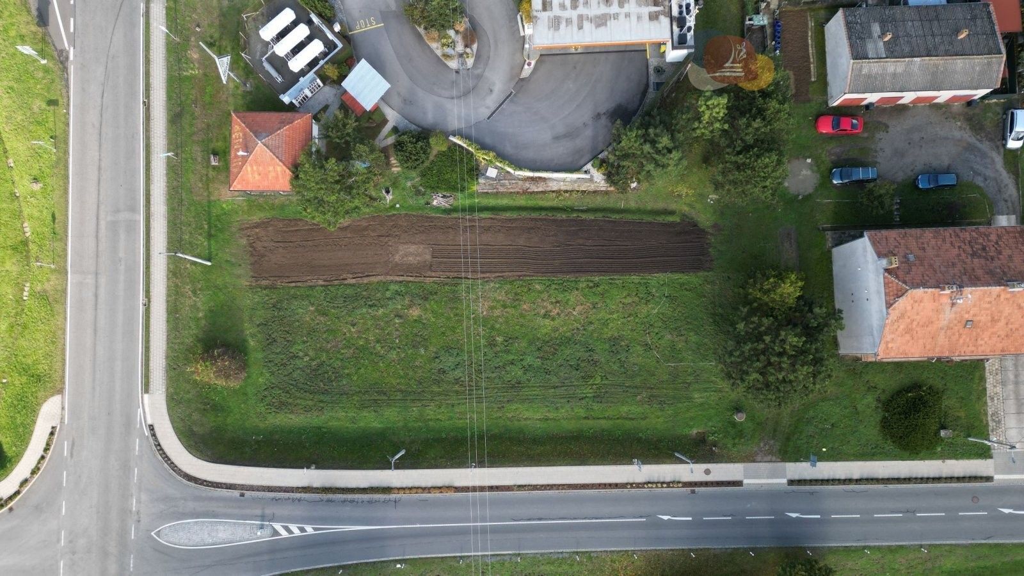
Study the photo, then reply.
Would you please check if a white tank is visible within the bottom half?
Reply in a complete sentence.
No, I see no white tank within the bottom half.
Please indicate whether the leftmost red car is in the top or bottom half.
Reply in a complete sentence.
Seen from above, the leftmost red car lies in the top half of the view.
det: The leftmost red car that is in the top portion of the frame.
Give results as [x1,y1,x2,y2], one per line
[815,111,865,135]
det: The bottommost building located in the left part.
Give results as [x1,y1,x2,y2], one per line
[229,111,316,194]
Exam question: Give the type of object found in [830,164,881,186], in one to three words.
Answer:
car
